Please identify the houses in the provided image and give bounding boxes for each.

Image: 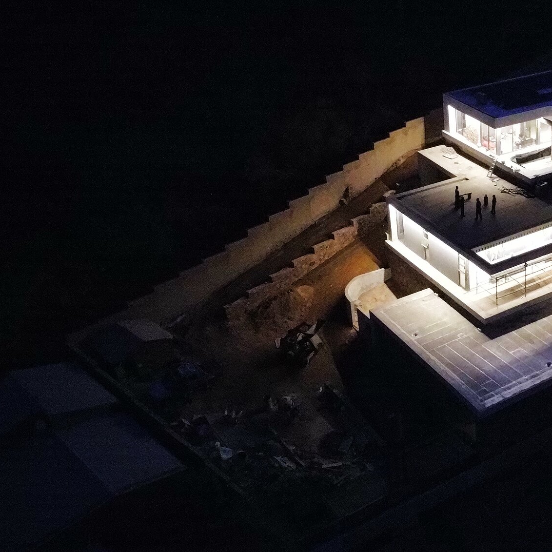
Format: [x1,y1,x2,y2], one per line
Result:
[370,70,552,453]
[11,410,191,552]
